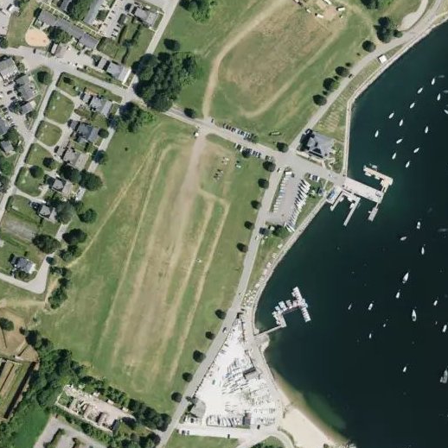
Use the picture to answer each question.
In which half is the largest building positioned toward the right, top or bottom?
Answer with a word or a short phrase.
top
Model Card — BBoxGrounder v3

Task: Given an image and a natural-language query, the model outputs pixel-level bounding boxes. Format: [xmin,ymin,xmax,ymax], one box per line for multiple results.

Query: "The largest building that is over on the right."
[307,131,337,159]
